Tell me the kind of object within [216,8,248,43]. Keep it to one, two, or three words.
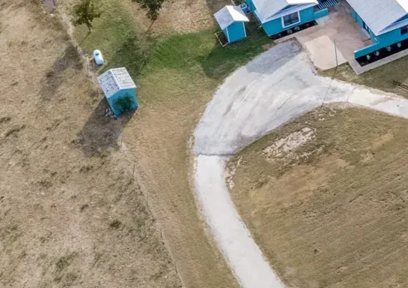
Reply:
shed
